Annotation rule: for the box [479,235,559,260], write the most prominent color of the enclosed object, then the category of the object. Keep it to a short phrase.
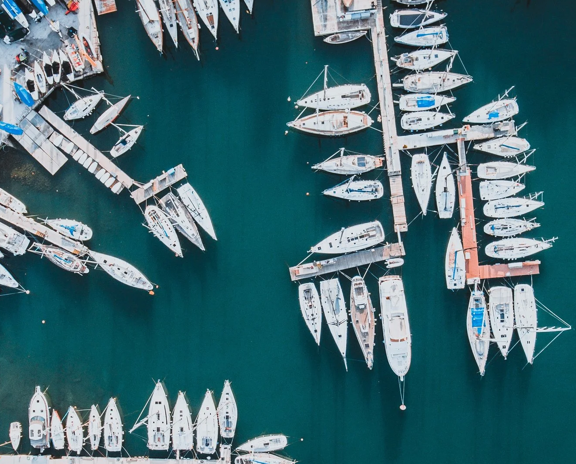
white boat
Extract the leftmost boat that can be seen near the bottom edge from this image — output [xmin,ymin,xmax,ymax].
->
[0,422,23,453]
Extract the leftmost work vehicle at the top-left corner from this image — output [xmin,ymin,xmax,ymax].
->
[16,49,33,64]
